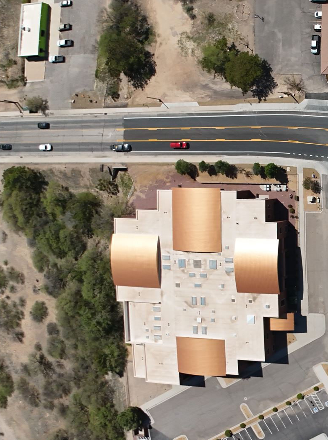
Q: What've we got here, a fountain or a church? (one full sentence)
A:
Looking from above, you can make out a church.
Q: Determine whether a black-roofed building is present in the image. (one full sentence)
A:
No, I can see no black-roofed building in this picture.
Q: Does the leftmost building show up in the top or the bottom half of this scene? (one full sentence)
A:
It is in the top half that the leftmost building appears.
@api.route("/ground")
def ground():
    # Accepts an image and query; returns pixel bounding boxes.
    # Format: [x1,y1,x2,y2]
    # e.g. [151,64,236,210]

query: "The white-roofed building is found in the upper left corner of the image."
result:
[18,2,52,58]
